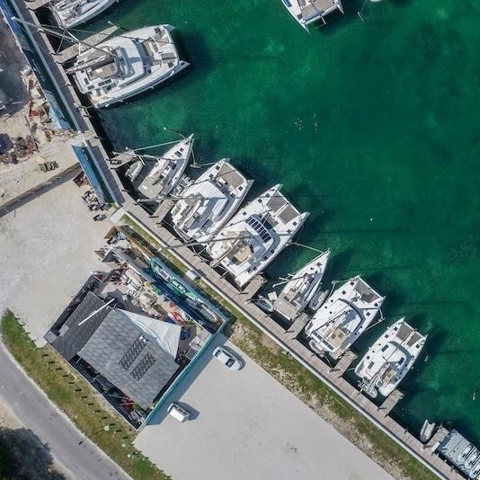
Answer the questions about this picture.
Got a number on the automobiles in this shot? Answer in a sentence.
The count of automobiles comes to 2.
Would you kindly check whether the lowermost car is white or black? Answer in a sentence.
From above, the lowermost car appears white.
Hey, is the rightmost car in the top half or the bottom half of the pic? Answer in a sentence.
The bottom half of the photo is where the rightmost car is.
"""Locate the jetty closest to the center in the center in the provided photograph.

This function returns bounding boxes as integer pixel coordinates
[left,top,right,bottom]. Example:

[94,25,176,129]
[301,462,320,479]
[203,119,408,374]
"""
[240,274,267,298]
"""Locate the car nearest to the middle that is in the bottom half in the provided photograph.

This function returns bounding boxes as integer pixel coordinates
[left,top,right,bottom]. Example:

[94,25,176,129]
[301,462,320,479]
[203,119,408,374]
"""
[213,345,242,372]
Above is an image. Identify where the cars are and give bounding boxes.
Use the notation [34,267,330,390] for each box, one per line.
[165,402,192,424]
[213,345,242,372]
